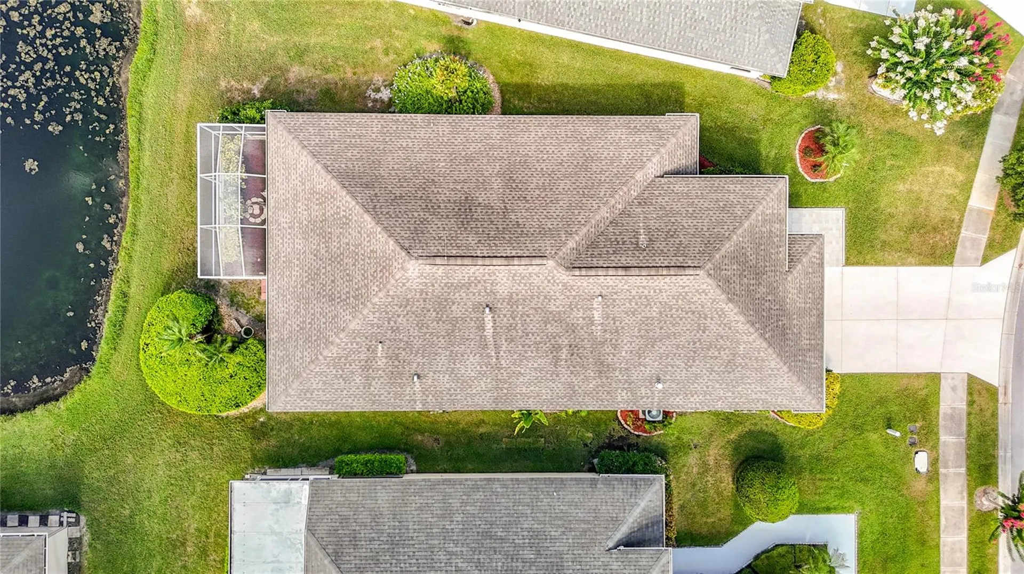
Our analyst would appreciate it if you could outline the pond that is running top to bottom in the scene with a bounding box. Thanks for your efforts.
[0,0,128,392]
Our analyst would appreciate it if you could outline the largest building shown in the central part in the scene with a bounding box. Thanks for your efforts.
[264,110,827,414]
